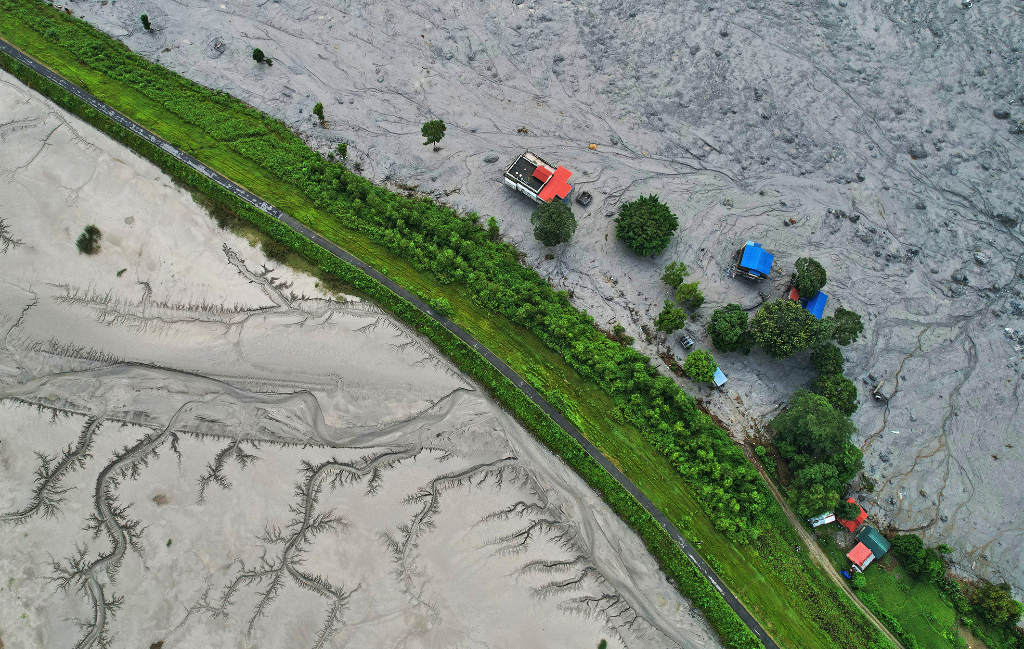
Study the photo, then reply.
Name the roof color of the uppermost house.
red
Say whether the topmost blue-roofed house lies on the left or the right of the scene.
right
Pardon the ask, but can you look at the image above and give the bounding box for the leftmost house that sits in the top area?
[502,149,573,205]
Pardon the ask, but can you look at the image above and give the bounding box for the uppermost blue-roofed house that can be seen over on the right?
[734,241,774,283]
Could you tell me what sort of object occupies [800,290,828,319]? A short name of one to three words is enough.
house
